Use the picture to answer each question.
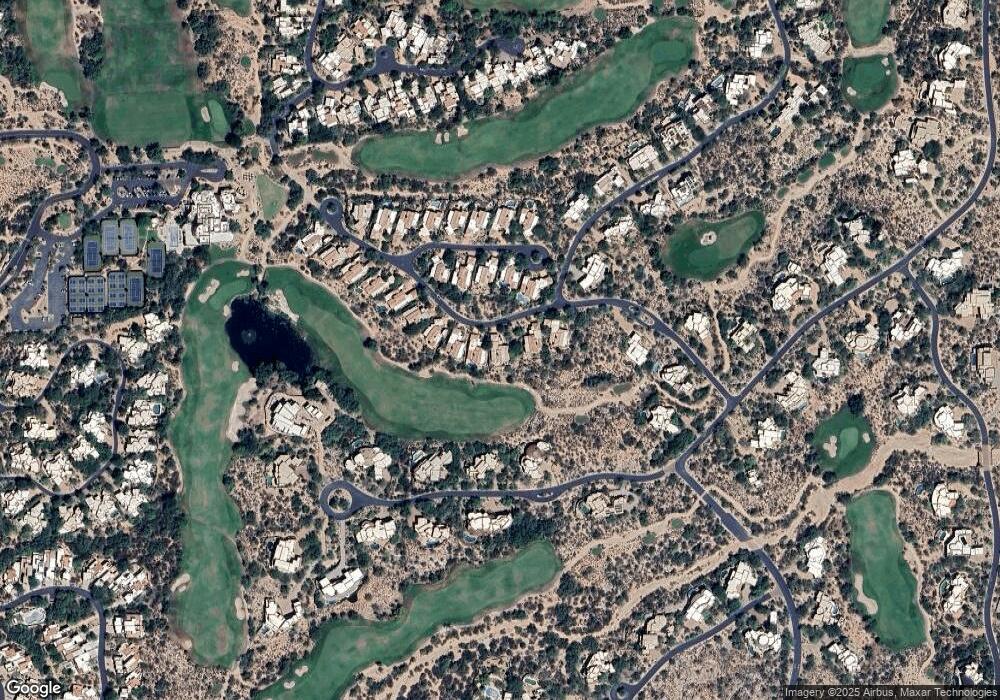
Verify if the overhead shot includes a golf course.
Yes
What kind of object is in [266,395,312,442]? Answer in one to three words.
house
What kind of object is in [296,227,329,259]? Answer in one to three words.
house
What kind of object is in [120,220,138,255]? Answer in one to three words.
tennis court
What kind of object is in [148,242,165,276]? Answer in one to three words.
tennis court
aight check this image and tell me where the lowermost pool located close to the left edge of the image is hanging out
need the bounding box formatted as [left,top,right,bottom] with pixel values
[24,609,45,625]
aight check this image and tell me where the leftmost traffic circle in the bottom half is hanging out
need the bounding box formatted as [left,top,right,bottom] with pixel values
[321,480,360,519]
